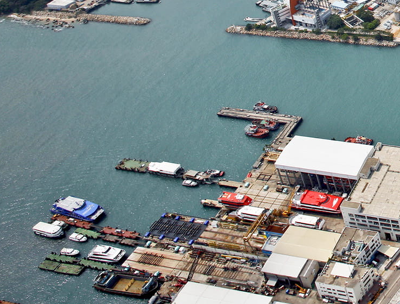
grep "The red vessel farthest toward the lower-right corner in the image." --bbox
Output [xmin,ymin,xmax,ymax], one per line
[291,191,342,214]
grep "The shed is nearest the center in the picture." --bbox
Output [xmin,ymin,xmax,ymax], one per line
[147,162,184,181]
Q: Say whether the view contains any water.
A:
Yes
